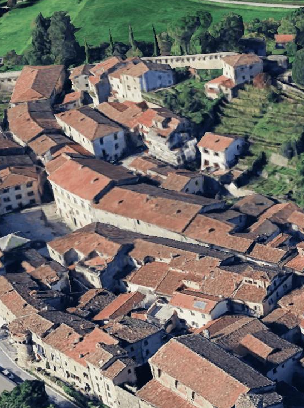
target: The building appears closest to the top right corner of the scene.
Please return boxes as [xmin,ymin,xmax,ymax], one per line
[276,34,296,50]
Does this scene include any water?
No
